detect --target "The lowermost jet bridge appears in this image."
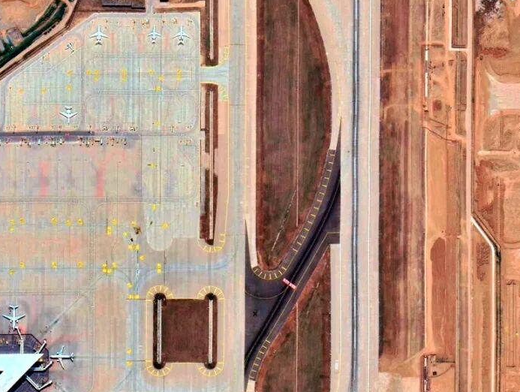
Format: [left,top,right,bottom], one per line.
[24,375,54,392]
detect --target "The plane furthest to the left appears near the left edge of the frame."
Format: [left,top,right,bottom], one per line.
[2,305,25,330]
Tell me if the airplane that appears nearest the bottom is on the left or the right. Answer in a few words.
left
